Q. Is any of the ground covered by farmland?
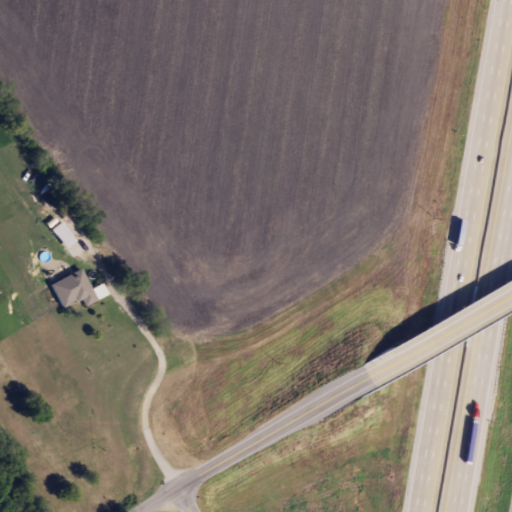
Yes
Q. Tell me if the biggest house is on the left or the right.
left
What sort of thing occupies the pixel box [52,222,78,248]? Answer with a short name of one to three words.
barn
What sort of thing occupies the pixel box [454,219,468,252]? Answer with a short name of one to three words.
vehicle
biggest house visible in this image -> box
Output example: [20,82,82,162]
[52,268,100,308]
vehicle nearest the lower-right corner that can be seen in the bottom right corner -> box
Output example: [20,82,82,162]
[464,406,480,464]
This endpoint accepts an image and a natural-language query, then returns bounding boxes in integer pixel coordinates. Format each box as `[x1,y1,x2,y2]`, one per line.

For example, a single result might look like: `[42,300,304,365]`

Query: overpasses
[356,281,512,392]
